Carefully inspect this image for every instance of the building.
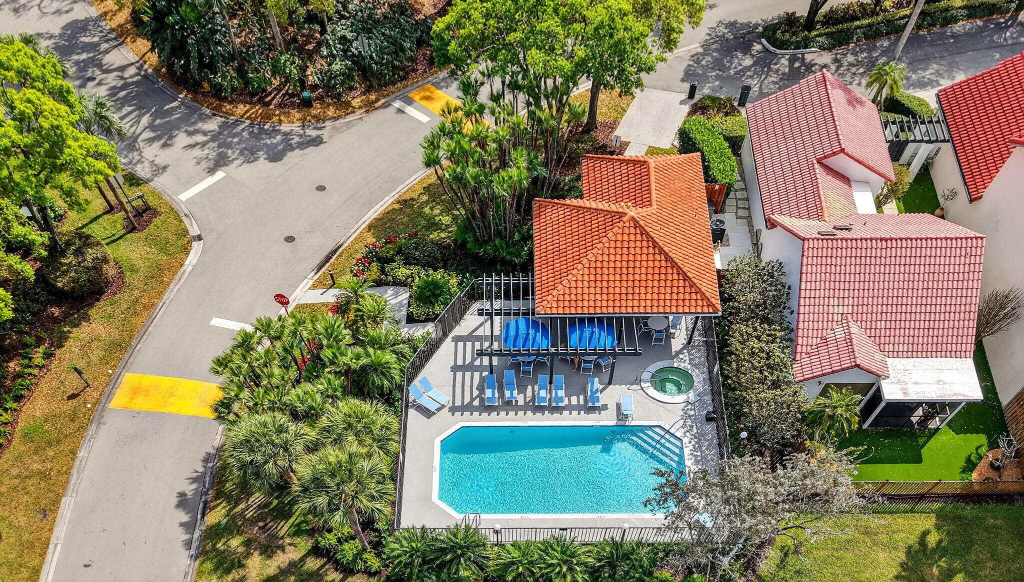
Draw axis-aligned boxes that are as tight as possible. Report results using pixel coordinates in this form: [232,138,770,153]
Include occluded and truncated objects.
[740,71,988,431]
[531,150,723,347]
